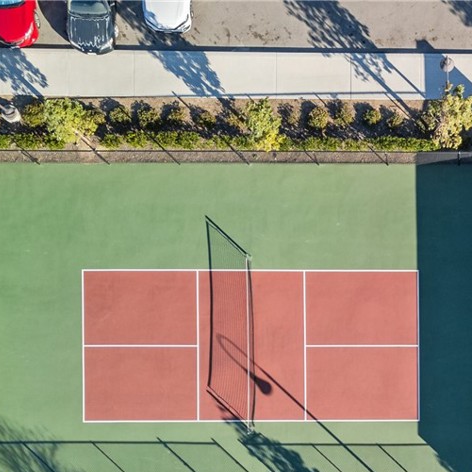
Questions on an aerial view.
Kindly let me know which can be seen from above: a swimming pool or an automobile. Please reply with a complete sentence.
Visible in the photo is an automobile.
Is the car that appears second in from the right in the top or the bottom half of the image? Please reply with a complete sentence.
You can find the car that appears second in from the right in the top half.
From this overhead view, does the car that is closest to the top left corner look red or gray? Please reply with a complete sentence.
From above, the car that is closest to the top left corner appears red.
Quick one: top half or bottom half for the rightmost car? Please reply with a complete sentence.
You can find the rightmost car in the top half.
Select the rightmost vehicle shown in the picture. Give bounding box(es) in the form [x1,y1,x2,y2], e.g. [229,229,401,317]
[143,0,196,31]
